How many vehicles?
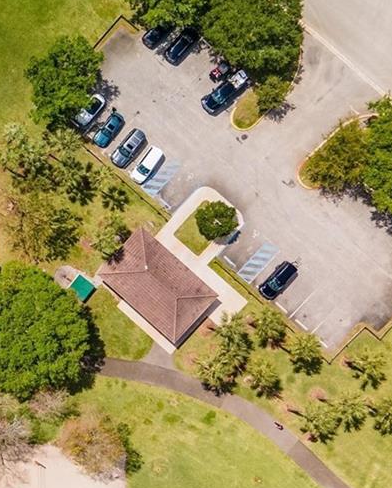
eight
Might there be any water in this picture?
No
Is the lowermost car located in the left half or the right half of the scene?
right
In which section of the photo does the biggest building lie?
center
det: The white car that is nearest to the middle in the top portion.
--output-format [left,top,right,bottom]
[129,145,166,185]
